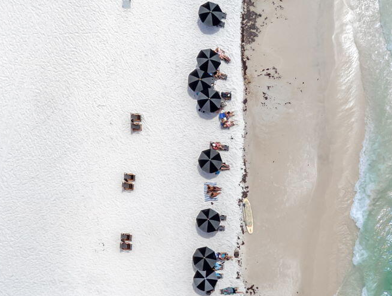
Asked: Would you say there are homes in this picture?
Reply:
No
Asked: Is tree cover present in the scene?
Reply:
No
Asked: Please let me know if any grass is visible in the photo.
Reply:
No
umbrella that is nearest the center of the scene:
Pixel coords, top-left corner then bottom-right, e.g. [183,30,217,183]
[197,150,223,175]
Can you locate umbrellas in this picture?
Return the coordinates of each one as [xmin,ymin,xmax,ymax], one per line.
[197,150,223,175]
[196,49,221,74]
[198,90,223,115]
[194,271,219,294]
[196,210,221,235]
[189,71,213,96]
[198,4,223,30]
[192,247,218,272]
